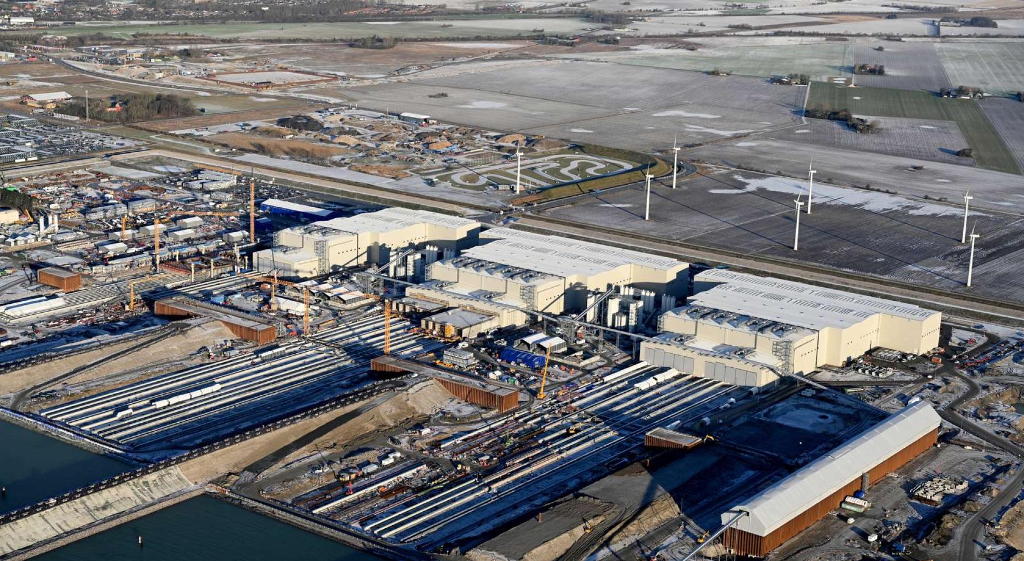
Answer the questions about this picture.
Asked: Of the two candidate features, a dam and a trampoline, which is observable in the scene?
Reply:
dam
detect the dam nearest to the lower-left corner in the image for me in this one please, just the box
[0,456,212,561]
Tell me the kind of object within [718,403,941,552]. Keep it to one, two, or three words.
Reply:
shed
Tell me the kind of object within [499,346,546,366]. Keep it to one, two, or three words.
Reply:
building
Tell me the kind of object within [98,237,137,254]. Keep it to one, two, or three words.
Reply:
building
